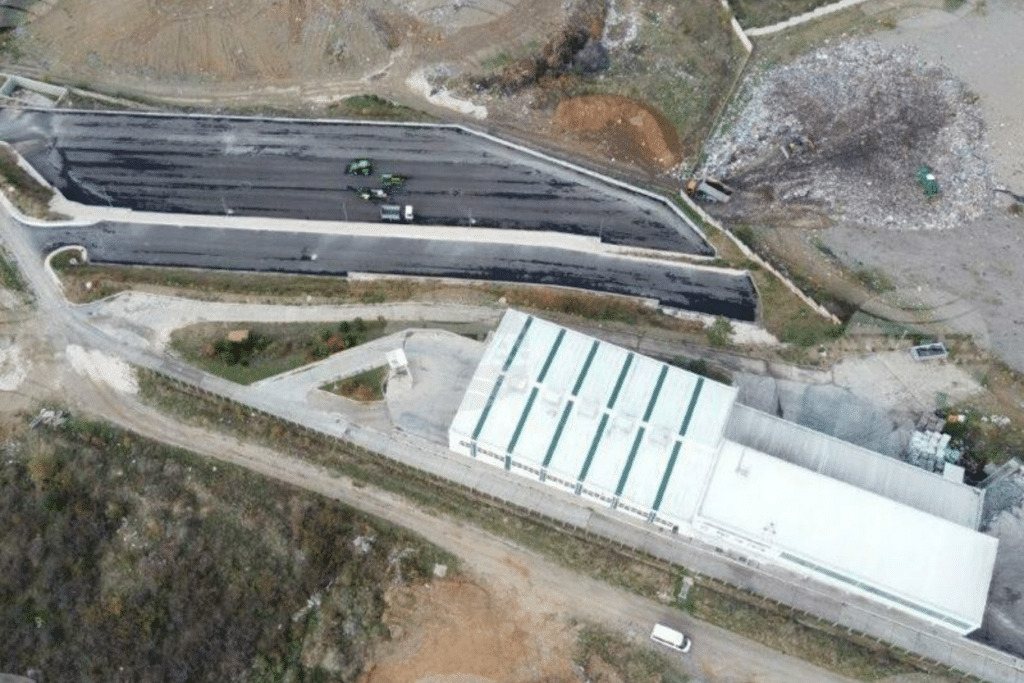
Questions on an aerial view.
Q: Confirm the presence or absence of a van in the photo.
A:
Yes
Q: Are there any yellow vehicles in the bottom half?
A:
No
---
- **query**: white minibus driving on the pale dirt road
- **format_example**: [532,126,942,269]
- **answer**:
[652,627,694,656]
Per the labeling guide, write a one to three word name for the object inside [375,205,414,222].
vehicle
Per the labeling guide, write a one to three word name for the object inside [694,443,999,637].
building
